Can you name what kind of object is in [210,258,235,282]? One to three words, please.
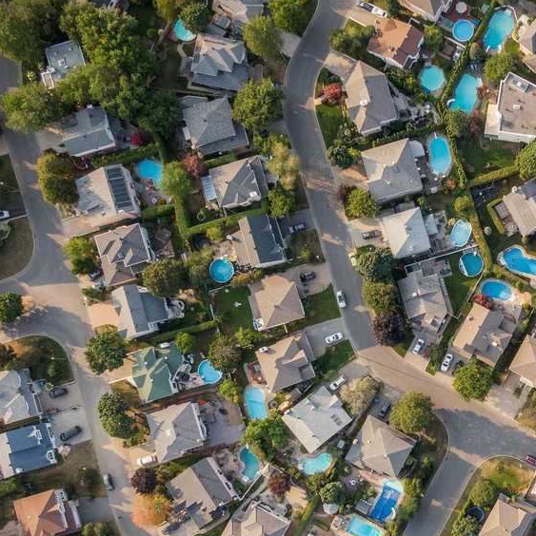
swimming pool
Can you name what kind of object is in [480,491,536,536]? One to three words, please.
house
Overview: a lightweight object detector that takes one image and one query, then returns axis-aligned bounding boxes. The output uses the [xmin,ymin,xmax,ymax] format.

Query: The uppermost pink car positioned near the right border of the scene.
[522,454,536,467]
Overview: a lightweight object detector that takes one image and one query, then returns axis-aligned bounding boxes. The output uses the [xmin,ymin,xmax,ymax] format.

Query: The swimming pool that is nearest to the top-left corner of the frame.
[168,14,197,44]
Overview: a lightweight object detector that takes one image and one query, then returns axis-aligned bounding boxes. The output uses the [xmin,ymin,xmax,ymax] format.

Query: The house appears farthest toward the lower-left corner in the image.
[13,489,83,536]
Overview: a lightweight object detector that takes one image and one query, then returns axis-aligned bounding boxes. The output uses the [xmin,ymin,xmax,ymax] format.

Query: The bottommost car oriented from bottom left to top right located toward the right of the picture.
[377,399,391,418]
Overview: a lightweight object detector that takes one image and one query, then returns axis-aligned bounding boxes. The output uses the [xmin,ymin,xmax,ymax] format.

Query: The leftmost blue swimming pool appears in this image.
[134,154,166,186]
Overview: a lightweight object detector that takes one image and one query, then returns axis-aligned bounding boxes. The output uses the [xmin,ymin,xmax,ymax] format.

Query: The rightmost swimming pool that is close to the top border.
[480,8,515,50]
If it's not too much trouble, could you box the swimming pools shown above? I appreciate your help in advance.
[240,383,269,423]
[451,17,475,42]
[367,484,402,528]
[450,219,472,247]
[342,513,387,536]
[168,14,197,44]
[236,445,262,479]
[500,244,536,277]
[134,154,166,186]
[480,8,515,50]
[478,277,514,303]
[426,137,453,178]
[460,251,484,276]
[298,450,333,477]
[197,359,225,388]
[448,71,483,112]
[210,258,235,282]
[417,63,447,93]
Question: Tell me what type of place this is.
residential area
